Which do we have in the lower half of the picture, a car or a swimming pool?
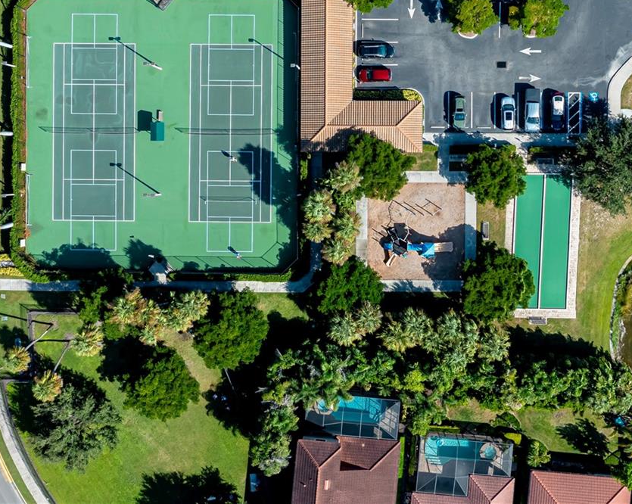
swimming pool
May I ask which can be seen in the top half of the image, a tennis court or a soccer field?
tennis court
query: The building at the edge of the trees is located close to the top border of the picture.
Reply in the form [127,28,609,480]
[299,0,425,153]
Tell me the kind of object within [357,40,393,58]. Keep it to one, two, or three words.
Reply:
car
